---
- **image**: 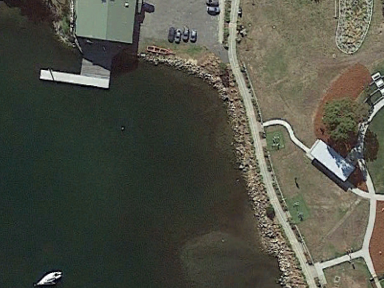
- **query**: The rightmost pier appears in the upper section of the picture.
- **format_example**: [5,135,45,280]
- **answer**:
[81,49,112,79]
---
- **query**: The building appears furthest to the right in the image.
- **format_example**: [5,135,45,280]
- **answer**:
[309,140,355,182]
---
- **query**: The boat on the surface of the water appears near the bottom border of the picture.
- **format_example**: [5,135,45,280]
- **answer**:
[36,270,61,285]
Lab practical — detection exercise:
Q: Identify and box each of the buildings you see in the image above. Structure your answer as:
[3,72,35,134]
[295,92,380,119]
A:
[309,140,355,182]
[76,0,136,42]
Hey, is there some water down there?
Yes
